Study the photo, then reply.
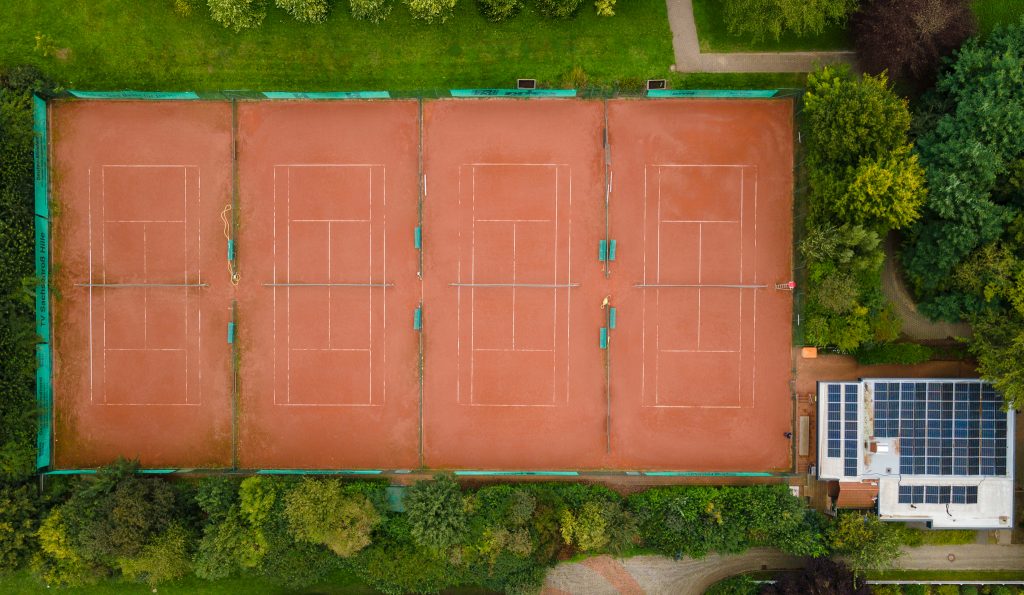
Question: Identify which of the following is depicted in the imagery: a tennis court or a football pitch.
tennis court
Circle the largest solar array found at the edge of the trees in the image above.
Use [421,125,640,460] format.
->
[875,383,1006,475]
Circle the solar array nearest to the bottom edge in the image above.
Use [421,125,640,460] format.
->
[900,486,978,504]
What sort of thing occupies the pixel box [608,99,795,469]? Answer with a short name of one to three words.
tennis court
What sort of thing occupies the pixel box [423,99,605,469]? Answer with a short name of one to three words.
tennis court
